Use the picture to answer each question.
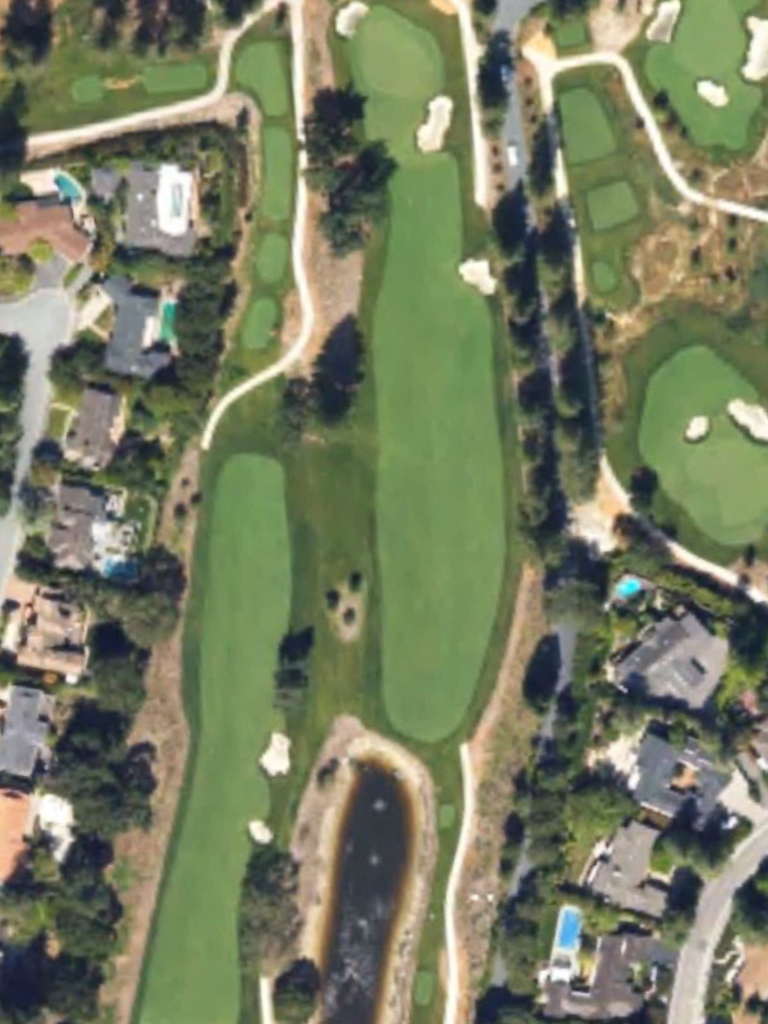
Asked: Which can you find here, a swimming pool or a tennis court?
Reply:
swimming pool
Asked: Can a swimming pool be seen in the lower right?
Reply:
Yes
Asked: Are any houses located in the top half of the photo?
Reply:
Yes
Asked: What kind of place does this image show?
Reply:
golf course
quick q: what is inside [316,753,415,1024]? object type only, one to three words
pond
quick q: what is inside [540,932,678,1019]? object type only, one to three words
house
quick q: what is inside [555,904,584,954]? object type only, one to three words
swimming pool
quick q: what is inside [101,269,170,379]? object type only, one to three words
house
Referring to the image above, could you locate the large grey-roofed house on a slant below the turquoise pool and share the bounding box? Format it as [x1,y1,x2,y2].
[611,610,735,705]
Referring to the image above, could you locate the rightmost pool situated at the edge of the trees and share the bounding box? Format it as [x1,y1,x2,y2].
[615,576,643,599]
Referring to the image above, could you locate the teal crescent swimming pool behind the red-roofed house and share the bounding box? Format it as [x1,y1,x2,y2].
[53,174,83,202]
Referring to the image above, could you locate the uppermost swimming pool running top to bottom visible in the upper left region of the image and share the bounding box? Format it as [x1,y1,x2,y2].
[170,183,183,216]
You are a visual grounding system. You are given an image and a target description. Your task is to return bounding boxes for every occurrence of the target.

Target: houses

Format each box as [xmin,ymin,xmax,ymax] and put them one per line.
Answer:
[0,788,29,885]
[0,683,50,775]
[611,610,735,705]
[632,732,739,819]
[540,932,678,1019]
[749,721,768,768]
[598,817,667,917]
[101,269,170,379]
[50,486,107,569]
[90,162,194,255]
[65,389,118,466]
[0,197,90,263]
[16,585,89,677]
